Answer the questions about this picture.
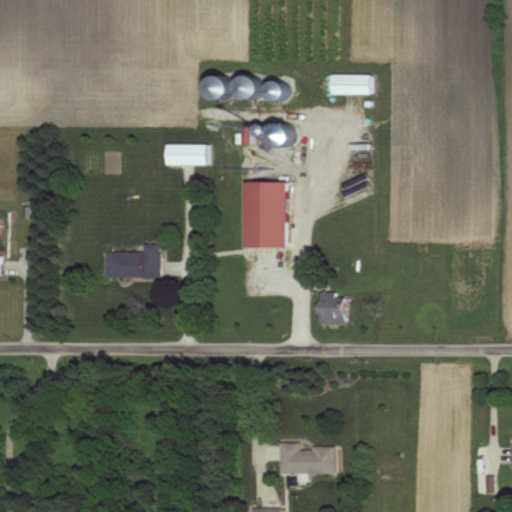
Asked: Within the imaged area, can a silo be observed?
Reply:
Yes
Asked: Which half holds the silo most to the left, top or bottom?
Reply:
top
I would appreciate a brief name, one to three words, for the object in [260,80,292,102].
silo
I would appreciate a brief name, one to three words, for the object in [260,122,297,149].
silo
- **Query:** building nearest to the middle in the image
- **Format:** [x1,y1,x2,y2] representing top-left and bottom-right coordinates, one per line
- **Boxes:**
[243,181,288,248]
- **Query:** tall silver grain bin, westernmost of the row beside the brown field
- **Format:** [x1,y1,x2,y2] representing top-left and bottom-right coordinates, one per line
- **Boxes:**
[198,75,232,102]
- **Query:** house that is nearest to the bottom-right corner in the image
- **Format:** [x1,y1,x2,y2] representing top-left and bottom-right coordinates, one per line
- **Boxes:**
[280,444,338,474]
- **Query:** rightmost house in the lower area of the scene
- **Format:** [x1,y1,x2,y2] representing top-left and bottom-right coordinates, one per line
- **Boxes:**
[316,292,350,324]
